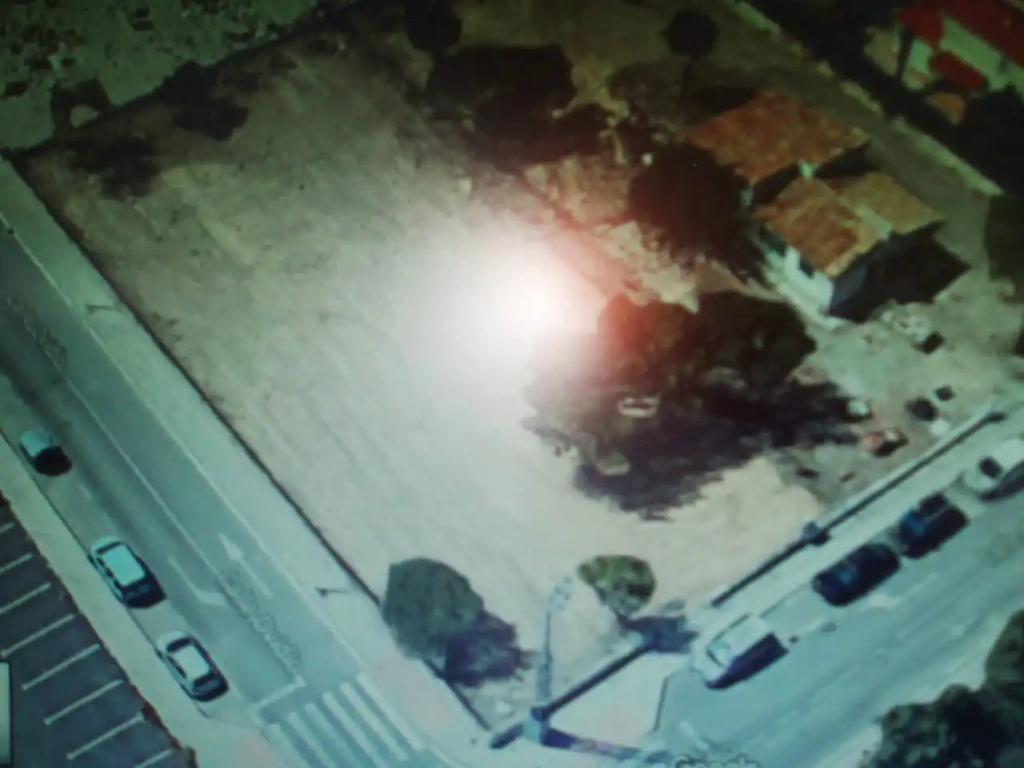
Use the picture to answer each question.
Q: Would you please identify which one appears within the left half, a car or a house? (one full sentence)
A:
The one visible within the left half is a car.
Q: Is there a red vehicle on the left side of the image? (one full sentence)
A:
No, no red vehicle is visible on the left side of the image.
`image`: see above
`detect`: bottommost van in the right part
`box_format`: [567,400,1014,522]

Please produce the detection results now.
[696,607,794,695]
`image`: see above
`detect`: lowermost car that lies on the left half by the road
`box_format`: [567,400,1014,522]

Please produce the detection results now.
[161,628,229,705]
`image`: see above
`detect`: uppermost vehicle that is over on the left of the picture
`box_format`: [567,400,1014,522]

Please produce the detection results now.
[19,427,75,486]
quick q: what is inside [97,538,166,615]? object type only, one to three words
car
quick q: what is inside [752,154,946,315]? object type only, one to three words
house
